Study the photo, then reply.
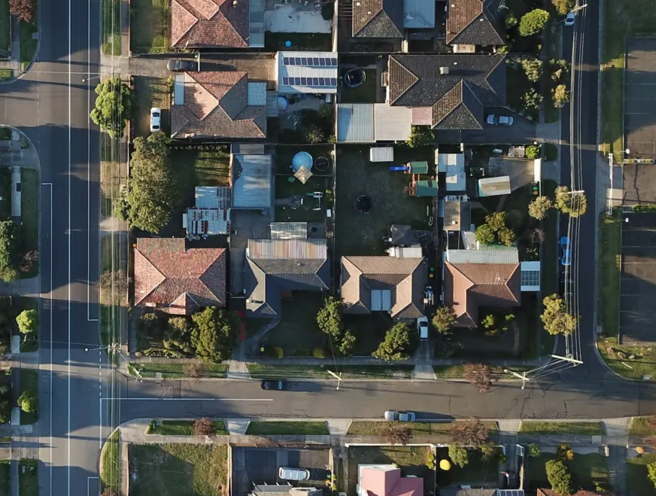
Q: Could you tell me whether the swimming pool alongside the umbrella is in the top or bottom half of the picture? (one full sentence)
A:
You can find the swimming pool alongside the umbrella in the top half.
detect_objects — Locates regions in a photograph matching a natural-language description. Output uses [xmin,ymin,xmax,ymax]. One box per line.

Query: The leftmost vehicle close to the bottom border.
[278,467,309,481]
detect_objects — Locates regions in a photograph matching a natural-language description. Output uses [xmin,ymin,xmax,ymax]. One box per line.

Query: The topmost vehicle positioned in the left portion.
[165,58,197,72]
